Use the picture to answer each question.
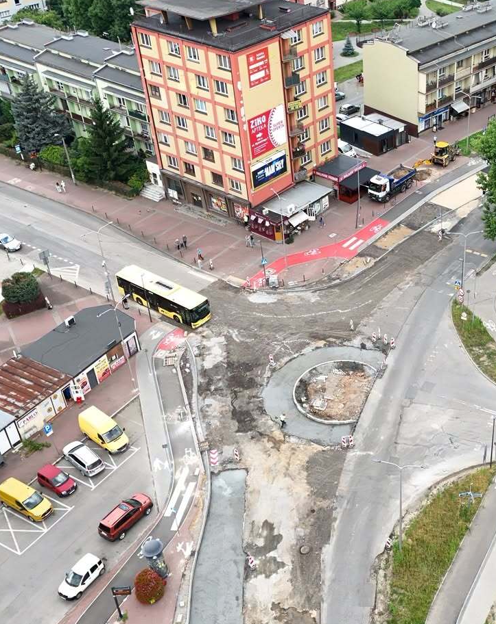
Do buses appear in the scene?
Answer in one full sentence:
Yes, looking at the shot, I can spot a bus.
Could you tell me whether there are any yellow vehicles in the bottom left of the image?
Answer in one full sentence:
Yes, a yellow vehicle shows up in the bottom left of the image.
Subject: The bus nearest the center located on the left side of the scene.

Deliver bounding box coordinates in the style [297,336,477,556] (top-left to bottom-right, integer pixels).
[112,261,216,331]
